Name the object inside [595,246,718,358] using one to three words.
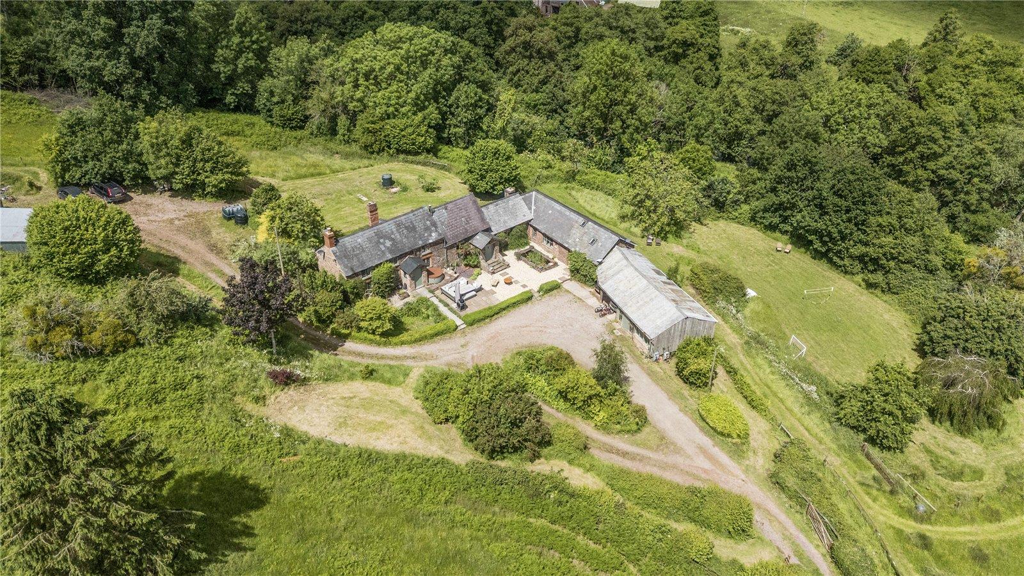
barn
